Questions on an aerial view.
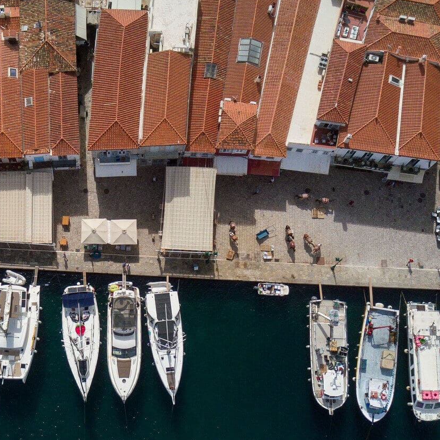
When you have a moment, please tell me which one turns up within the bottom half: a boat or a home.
boat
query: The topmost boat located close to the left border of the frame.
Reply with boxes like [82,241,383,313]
[4,271,26,286]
